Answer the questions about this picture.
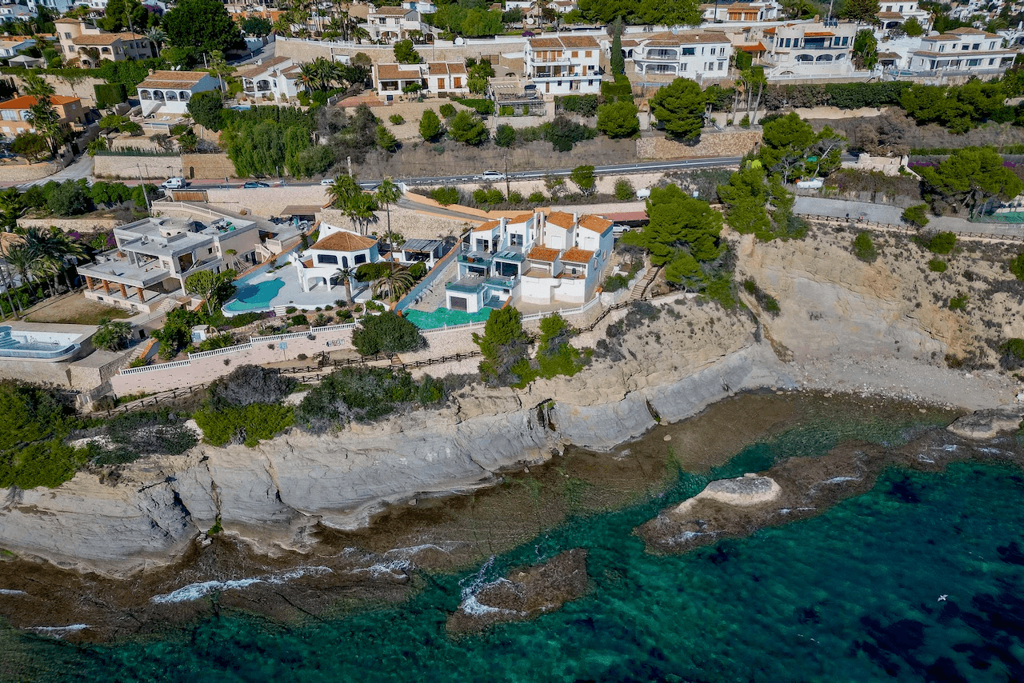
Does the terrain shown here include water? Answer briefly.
Yes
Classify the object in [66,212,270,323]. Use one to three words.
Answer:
house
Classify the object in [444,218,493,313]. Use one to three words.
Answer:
house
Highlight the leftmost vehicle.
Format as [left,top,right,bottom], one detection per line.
[159,175,188,188]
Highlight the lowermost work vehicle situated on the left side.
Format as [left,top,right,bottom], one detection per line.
[291,214,311,229]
